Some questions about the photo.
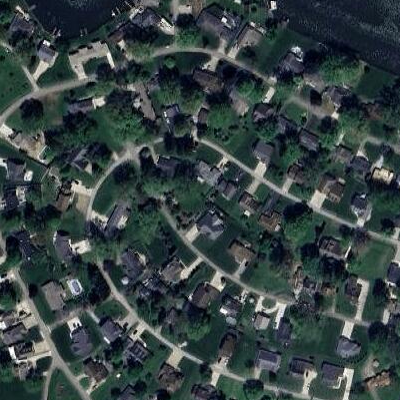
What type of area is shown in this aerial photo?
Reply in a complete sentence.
It's a residential area.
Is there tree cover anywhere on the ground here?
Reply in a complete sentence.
Yes, there is tree cover in the image.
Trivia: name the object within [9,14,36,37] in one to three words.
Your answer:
house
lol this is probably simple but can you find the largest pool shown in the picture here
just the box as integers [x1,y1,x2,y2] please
[66,277,85,299]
